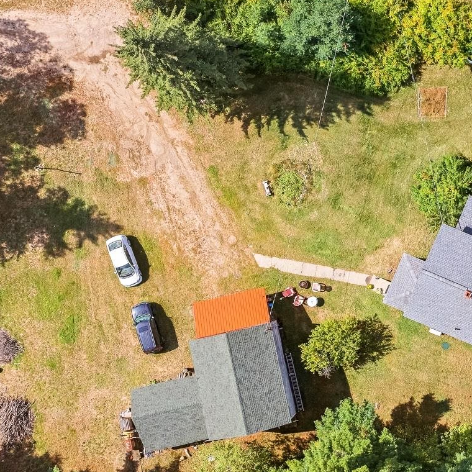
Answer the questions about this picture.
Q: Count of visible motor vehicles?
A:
2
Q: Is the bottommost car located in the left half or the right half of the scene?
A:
left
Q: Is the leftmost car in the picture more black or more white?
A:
white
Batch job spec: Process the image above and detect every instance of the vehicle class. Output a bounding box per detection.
[107,235,143,288]
[134,299,168,353]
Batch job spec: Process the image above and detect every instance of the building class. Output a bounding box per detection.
[382,194,472,342]
[132,288,298,451]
